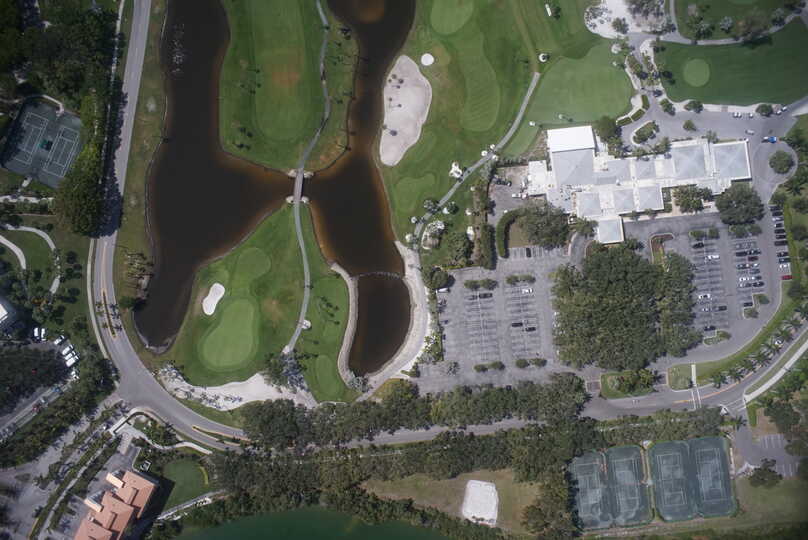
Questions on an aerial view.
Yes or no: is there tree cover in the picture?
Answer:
Yes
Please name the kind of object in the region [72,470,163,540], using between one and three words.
building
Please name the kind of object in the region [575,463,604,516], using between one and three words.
tennis court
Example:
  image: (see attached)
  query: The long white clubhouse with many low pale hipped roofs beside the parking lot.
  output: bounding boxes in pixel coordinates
[528,126,752,246]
